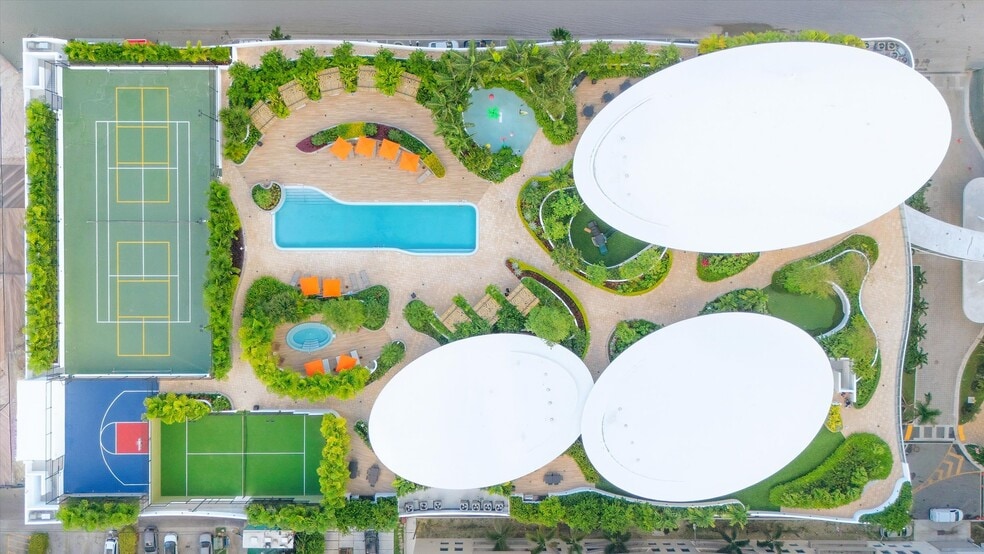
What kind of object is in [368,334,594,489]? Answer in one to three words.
building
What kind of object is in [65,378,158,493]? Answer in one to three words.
basketball court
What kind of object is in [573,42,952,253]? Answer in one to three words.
building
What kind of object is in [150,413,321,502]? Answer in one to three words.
sports court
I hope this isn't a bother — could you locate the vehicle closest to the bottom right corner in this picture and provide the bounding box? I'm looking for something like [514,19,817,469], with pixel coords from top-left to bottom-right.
[926,506,964,524]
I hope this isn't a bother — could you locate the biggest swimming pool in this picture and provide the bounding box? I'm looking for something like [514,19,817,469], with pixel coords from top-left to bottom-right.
[273,181,479,255]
